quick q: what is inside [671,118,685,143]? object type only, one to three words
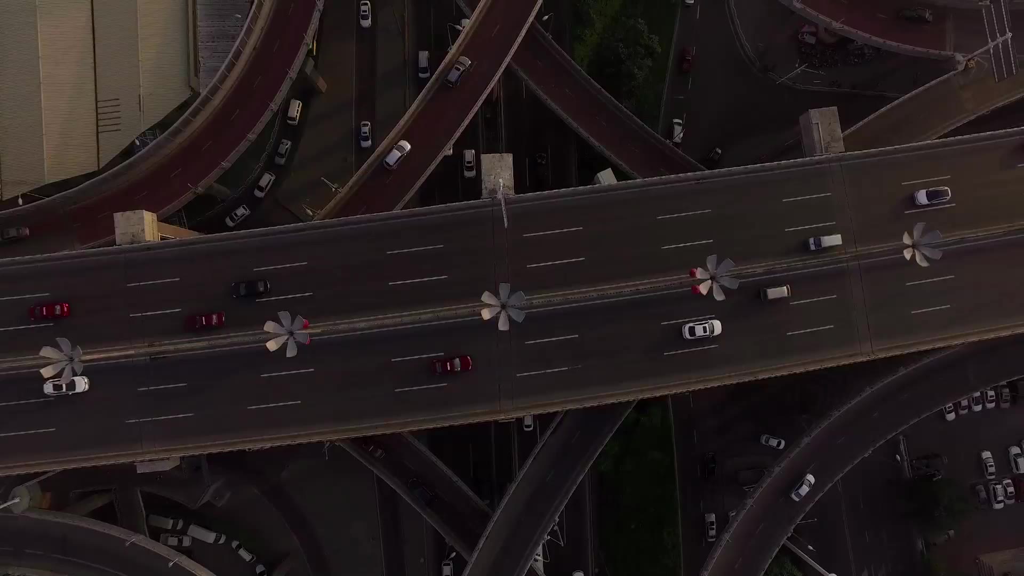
car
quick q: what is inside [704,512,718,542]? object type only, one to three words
car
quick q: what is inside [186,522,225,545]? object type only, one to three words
vehicle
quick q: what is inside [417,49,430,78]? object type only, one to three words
vehicle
